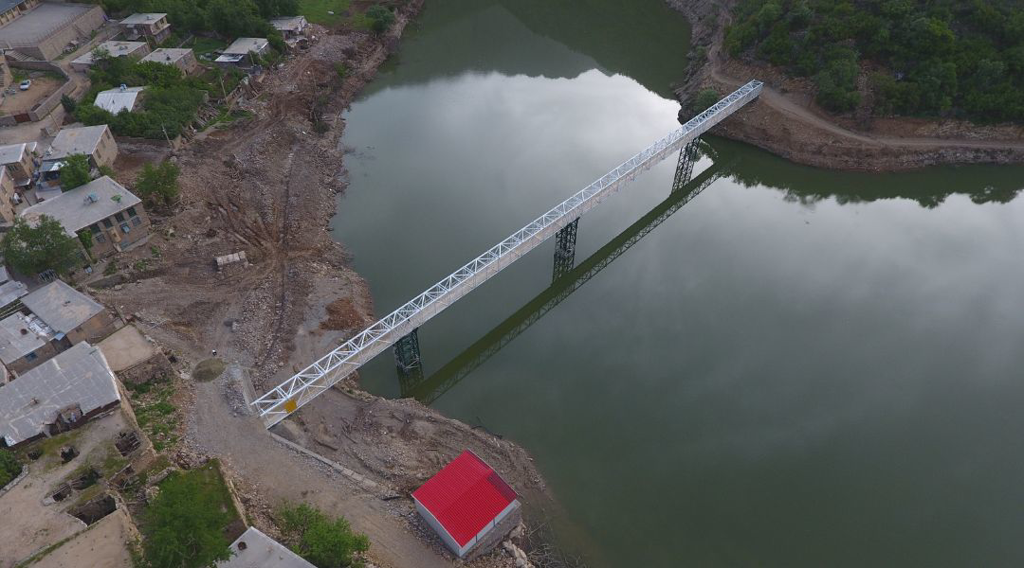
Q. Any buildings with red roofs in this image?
Yes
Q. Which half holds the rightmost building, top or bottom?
bottom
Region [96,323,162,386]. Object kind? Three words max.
shed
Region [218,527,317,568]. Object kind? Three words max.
house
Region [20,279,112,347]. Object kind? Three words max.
house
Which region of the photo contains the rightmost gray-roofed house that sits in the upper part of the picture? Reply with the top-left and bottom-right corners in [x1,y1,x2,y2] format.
[268,15,306,44]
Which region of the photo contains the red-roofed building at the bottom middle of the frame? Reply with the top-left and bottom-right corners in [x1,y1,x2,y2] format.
[411,449,526,565]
